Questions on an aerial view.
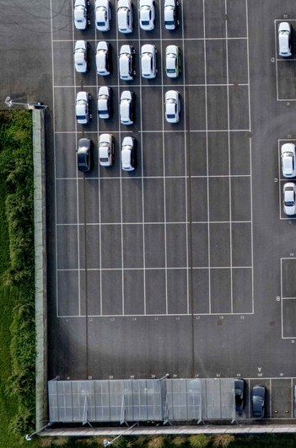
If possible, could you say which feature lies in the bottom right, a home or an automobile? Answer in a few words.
automobile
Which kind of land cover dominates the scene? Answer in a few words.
paved ground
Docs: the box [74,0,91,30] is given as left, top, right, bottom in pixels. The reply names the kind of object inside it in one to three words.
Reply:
car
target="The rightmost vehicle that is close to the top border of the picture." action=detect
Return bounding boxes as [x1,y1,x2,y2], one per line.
[276,21,293,57]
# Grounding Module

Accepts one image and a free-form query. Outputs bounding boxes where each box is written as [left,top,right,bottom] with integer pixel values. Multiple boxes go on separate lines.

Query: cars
[120,90,137,125]
[276,21,293,57]
[140,0,157,32]
[118,44,137,80]
[116,0,135,34]
[122,136,139,172]
[283,181,296,216]
[75,90,94,125]
[251,384,268,420]
[76,139,95,171]
[98,132,117,168]
[280,142,296,178]
[94,0,113,33]
[163,89,182,124]
[140,43,158,79]
[74,39,92,73]
[163,0,180,31]
[164,43,182,79]
[97,84,115,120]
[74,0,91,30]
[96,40,114,76]
[235,379,246,417]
